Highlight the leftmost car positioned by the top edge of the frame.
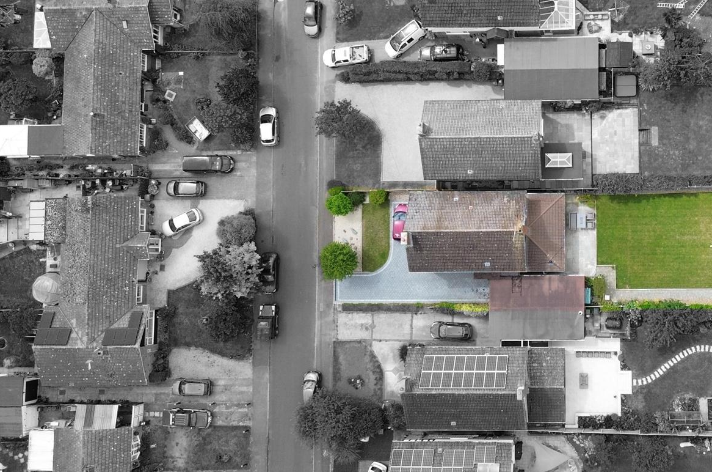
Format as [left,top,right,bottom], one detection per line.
[302,0,324,38]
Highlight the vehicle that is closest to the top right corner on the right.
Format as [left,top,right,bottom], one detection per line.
[420,41,465,63]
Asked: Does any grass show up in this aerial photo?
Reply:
Yes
